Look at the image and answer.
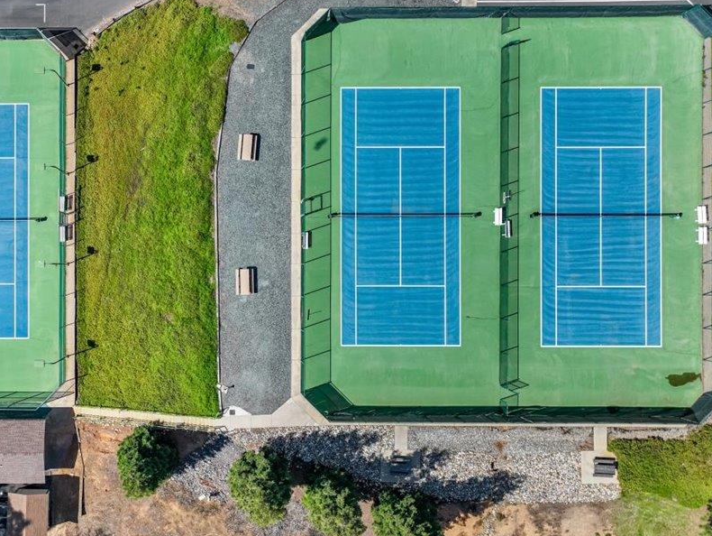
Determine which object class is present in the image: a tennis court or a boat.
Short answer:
tennis court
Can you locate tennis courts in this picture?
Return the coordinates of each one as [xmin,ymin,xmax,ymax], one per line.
[304,20,501,413]
[501,20,702,413]
[0,41,63,400]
